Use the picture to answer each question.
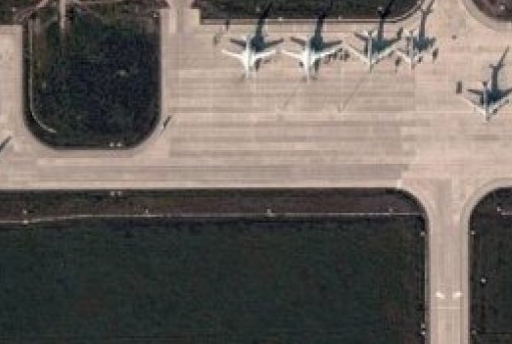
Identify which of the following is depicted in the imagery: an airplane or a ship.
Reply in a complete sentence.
Of the two, only an airplane appears.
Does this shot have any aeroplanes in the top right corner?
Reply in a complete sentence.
Yes, an aeroplane appears in the top right corner.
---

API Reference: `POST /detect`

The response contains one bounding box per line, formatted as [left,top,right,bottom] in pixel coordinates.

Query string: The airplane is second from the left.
[281,31,336,82]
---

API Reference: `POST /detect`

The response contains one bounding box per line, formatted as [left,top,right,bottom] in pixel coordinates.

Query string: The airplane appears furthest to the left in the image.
[221,29,276,80]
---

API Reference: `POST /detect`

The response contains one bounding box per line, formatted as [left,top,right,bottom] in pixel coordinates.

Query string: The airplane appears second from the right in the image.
[396,30,428,71]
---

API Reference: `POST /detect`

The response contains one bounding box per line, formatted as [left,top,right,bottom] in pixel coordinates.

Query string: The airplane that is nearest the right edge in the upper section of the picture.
[462,79,509,121]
